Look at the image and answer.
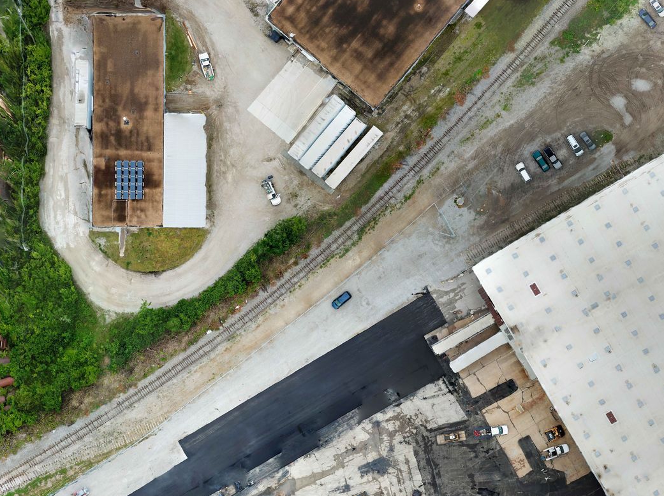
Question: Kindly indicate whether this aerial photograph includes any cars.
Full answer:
Yes, the image includes a car.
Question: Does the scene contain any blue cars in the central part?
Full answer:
Yes, you'll find a blue car in the central part.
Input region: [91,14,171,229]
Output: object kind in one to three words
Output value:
building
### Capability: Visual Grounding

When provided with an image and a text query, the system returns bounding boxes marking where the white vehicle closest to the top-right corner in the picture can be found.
[648,0,664,17]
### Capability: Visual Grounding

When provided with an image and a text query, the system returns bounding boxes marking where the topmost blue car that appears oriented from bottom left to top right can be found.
[330,290,352,308]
